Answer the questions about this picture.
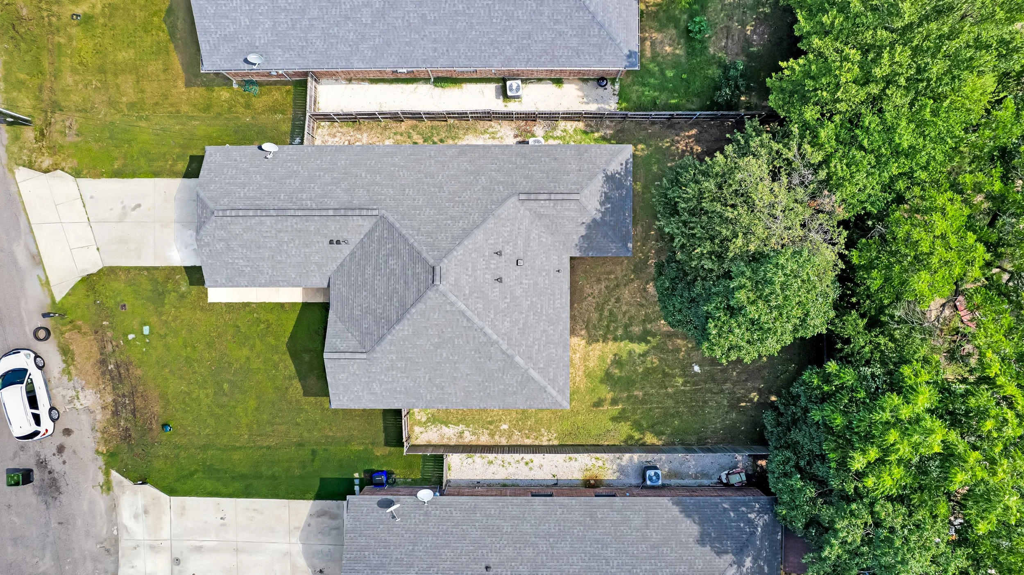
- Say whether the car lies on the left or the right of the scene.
left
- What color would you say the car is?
white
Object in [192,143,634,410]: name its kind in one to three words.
house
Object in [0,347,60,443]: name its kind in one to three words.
car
